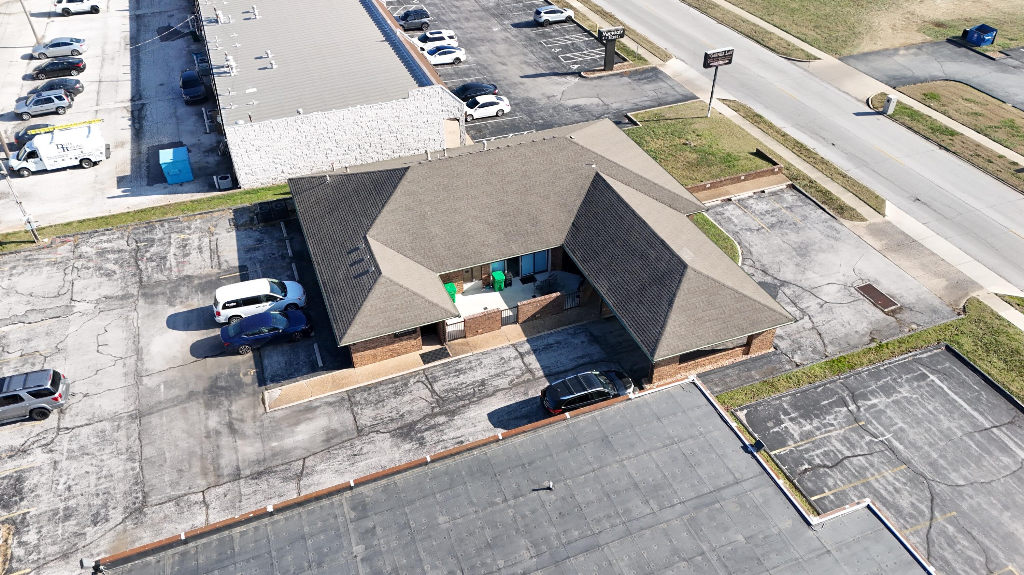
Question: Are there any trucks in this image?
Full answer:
Yes, there is a truck in the image.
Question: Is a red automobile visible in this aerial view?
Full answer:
No, there appears to be no red automobile in this shot.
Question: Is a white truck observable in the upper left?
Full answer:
Yes, a white truck can be seen in the upper left.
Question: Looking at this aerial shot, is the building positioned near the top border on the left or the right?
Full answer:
The building positioned near the top border is on the left side of the image.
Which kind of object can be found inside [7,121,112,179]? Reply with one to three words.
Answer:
truck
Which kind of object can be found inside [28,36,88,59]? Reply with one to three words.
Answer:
car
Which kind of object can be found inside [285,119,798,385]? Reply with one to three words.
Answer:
building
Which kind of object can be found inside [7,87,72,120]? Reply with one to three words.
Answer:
car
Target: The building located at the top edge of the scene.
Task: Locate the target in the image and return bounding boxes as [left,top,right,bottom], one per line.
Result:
[193,0,466,188]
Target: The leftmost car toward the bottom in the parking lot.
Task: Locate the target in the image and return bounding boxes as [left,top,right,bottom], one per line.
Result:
[0,365,73,426]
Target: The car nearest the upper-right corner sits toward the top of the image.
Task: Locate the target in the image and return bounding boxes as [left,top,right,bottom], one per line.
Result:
[532,3,577,25]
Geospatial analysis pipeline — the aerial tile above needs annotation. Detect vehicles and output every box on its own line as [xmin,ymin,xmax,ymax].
[532,3,577,25]
[396,7,432,30]
[27,55,86,79]
[7,121,112,179]
[453,81,499,100]
[411,24,461,51]
[208,273,308,323]
[0,365,73,426]
[423,44,468,65]
[464,93,513,121]
[180,67,208,104]
[215,306,315,355]
[12,120,81,148]
[539,368,642,421]
[51,0,104,16]
[7,87,72,120]
[28,36,88,59]
[24,78,88,99]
